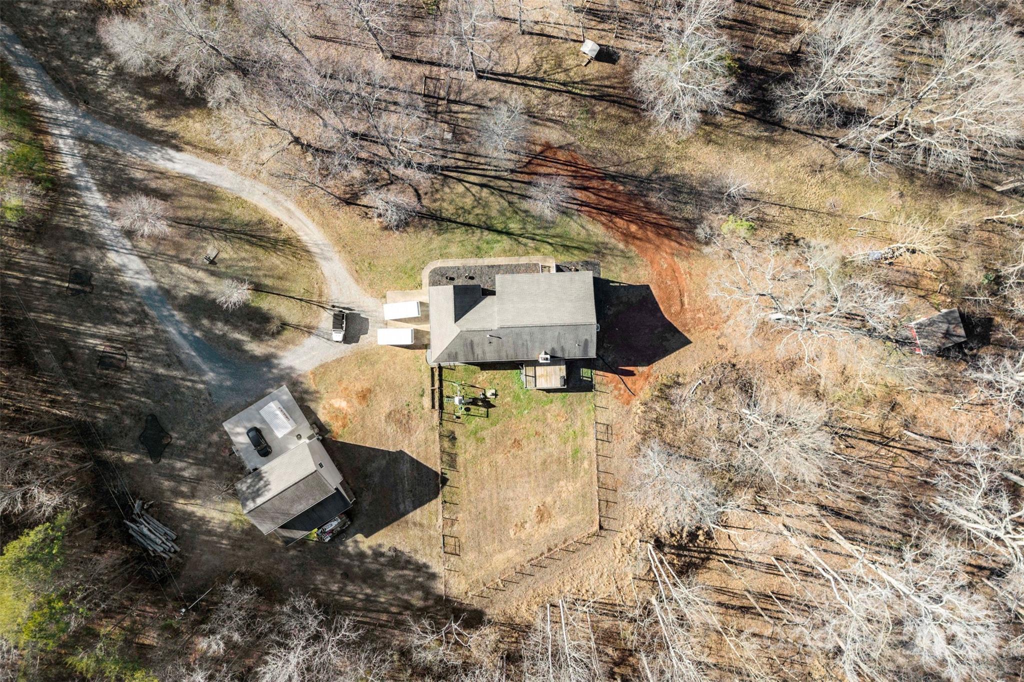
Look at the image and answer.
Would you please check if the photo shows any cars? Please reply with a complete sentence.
Yes, there's a car here.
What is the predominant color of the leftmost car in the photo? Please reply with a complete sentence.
The leftmost car looks black in the image.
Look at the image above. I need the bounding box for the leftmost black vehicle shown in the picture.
[247,425,271,458]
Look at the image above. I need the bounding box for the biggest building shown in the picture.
[429,263,600,388]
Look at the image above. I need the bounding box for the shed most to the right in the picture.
[903,308,966,355]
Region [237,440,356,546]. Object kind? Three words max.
barn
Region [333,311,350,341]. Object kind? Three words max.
car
